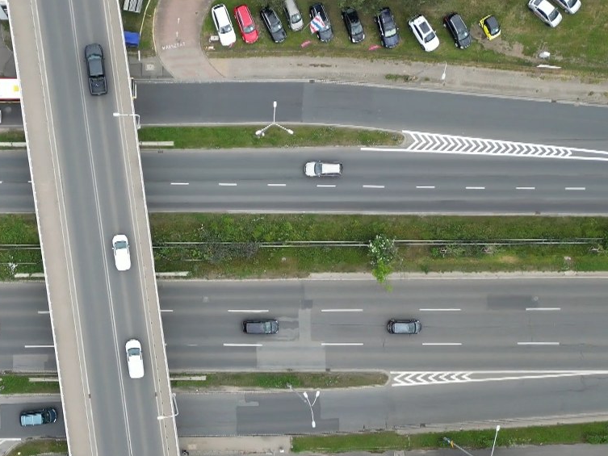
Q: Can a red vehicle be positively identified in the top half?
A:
Yes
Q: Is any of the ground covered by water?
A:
No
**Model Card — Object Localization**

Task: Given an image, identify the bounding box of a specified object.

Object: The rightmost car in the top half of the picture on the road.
[303,159,344,178]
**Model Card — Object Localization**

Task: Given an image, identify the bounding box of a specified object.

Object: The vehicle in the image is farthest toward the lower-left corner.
[19,407,58,426]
